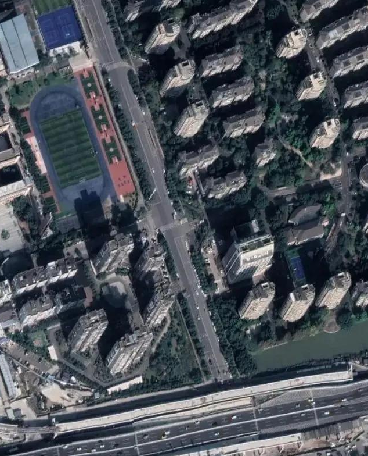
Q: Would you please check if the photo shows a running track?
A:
Yes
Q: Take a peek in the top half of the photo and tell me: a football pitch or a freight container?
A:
football pitch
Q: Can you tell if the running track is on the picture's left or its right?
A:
left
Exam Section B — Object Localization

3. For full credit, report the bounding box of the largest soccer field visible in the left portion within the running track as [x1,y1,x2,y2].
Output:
[41,110,102,188]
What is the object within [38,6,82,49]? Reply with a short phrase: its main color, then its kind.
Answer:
blue sports court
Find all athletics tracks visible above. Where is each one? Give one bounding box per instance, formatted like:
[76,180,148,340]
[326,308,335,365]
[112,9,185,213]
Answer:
[30,74,115,208]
